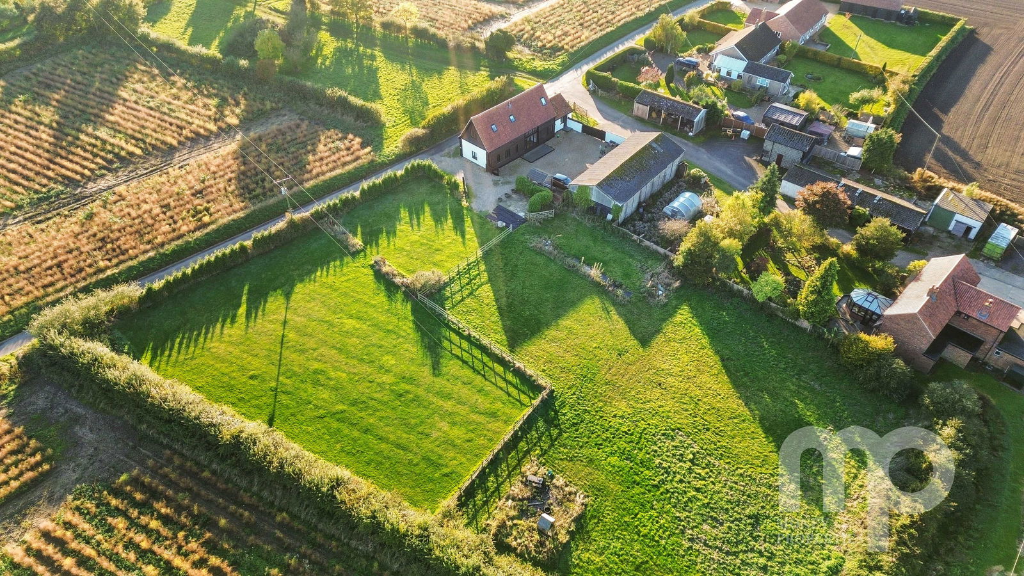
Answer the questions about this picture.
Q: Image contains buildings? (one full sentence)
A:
Yes, the image includes a building.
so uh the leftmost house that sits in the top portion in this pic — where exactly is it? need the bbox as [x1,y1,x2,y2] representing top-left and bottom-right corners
[458,84,573,172]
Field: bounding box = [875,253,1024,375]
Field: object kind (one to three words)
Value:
house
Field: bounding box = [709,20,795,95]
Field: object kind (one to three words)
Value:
house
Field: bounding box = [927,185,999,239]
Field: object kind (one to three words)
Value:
barn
